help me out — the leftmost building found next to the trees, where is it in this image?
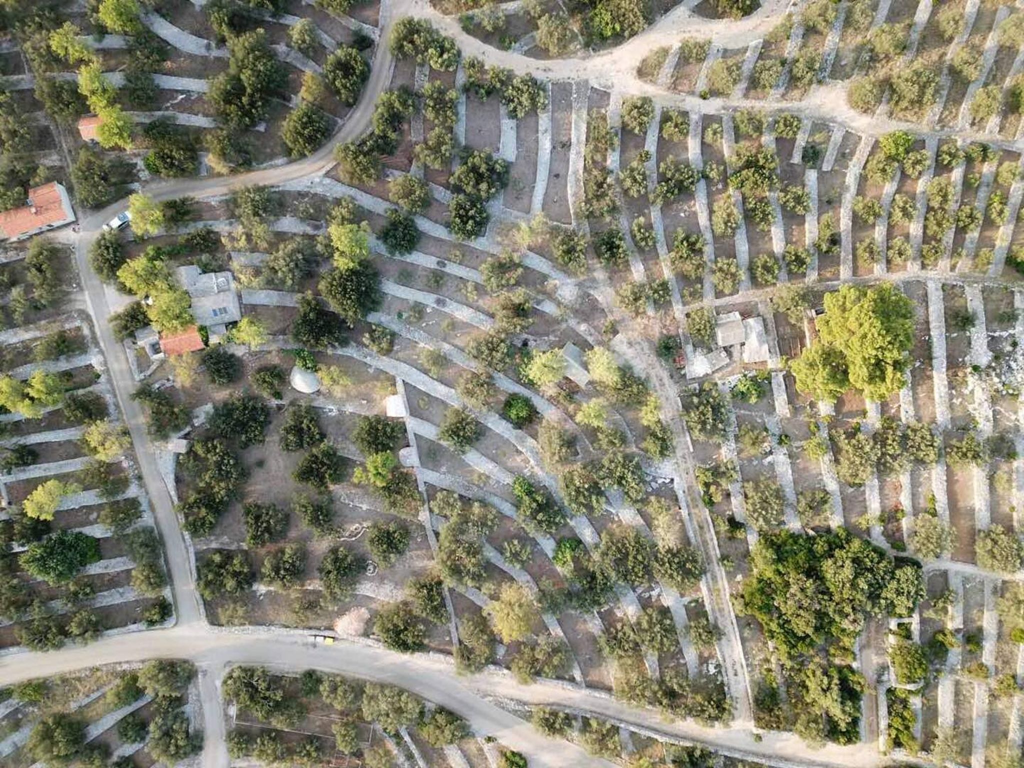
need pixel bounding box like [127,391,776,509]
[0,181,74,244]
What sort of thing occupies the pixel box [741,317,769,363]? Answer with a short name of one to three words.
shed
